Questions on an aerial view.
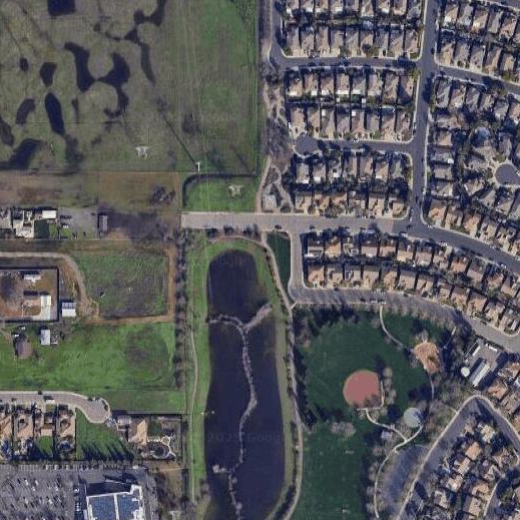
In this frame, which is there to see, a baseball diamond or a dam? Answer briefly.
baseball diamond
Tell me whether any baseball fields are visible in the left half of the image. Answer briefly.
No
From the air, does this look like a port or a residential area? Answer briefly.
residential area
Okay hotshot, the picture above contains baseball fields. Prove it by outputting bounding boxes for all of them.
[342,368,383,409]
